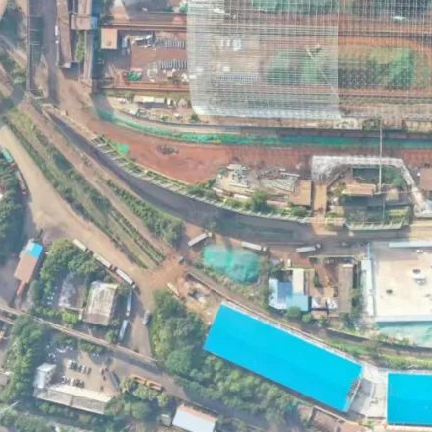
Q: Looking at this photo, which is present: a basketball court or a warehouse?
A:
warehouse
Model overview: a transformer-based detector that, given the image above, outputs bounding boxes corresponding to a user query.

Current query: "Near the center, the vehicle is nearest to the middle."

[185,231,210,248]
